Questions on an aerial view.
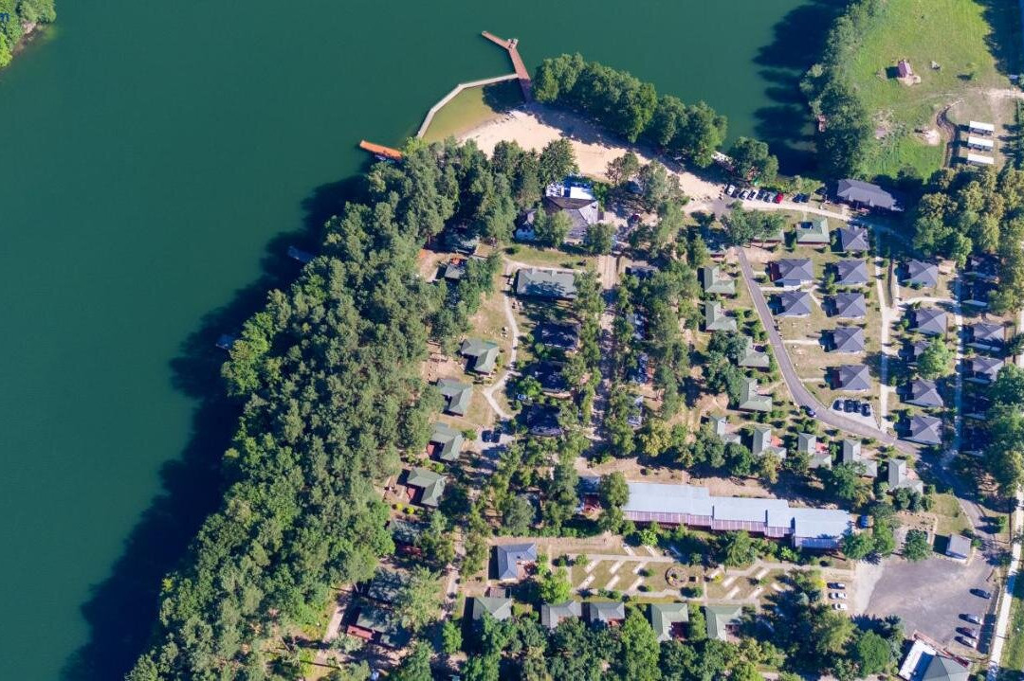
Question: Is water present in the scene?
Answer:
Yes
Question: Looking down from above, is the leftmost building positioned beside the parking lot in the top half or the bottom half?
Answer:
bottom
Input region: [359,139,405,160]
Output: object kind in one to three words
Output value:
pier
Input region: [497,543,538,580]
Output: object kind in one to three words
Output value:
house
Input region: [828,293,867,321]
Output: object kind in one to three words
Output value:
building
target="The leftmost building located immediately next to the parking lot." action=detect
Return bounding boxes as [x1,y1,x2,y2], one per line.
[621,482,852,548]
